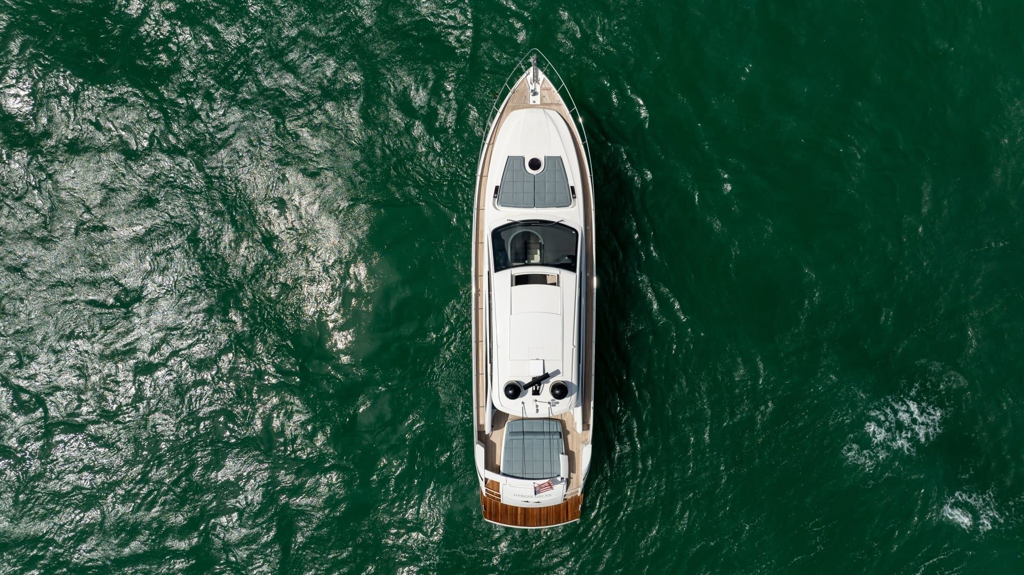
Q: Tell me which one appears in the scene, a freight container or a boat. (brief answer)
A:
boat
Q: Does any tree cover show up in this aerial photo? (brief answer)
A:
No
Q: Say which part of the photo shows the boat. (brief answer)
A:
center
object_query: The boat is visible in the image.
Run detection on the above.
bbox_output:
[472,48,597,528]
